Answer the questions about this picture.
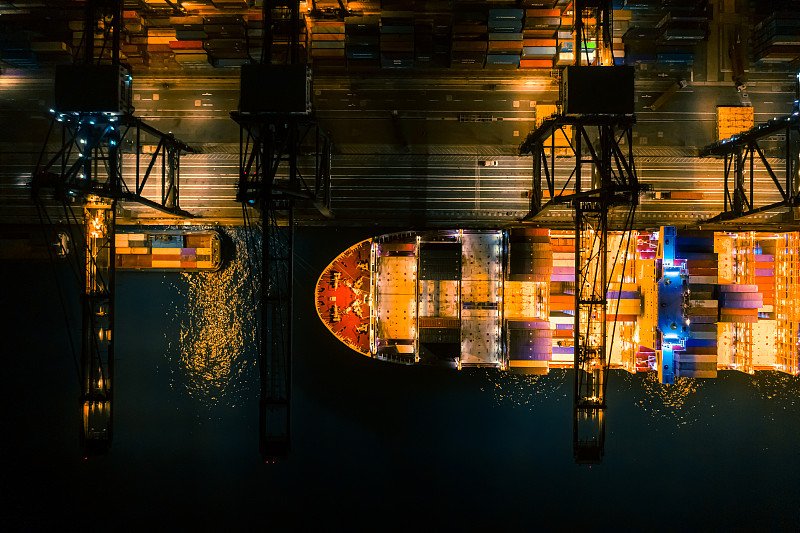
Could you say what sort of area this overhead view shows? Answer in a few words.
port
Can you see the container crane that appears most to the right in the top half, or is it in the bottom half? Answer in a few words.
top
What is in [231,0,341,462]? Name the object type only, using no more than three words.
container crane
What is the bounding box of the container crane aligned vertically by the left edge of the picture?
[24,0,200,461]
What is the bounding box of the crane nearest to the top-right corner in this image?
[702,76,800,220]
